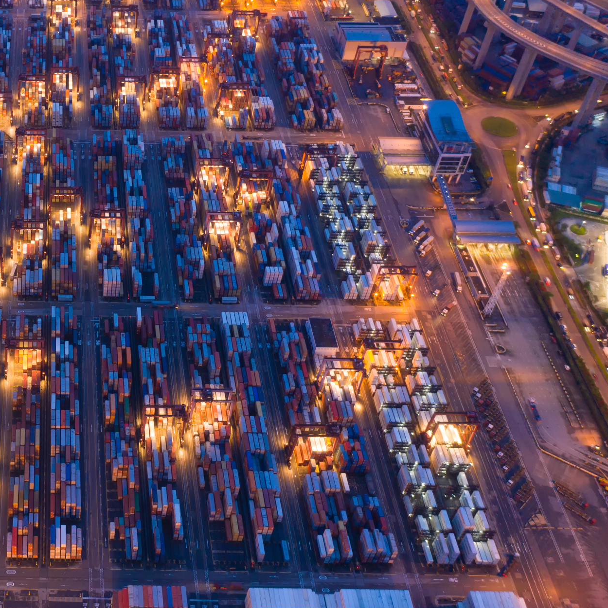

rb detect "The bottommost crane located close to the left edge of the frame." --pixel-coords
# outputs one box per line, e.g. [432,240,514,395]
[1,338,45,378]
